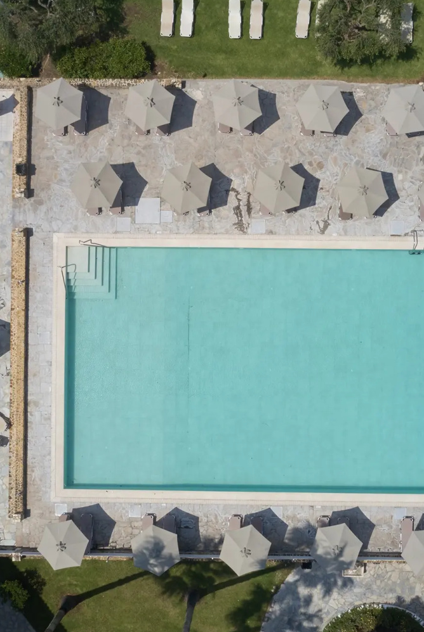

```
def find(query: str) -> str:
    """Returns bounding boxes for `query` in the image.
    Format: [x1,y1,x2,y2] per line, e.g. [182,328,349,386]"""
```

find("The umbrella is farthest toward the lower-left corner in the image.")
[36,518,89,570]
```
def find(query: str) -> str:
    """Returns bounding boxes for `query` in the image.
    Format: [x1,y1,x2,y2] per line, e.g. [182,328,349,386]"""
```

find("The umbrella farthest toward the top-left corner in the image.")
[35,79,85,133]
